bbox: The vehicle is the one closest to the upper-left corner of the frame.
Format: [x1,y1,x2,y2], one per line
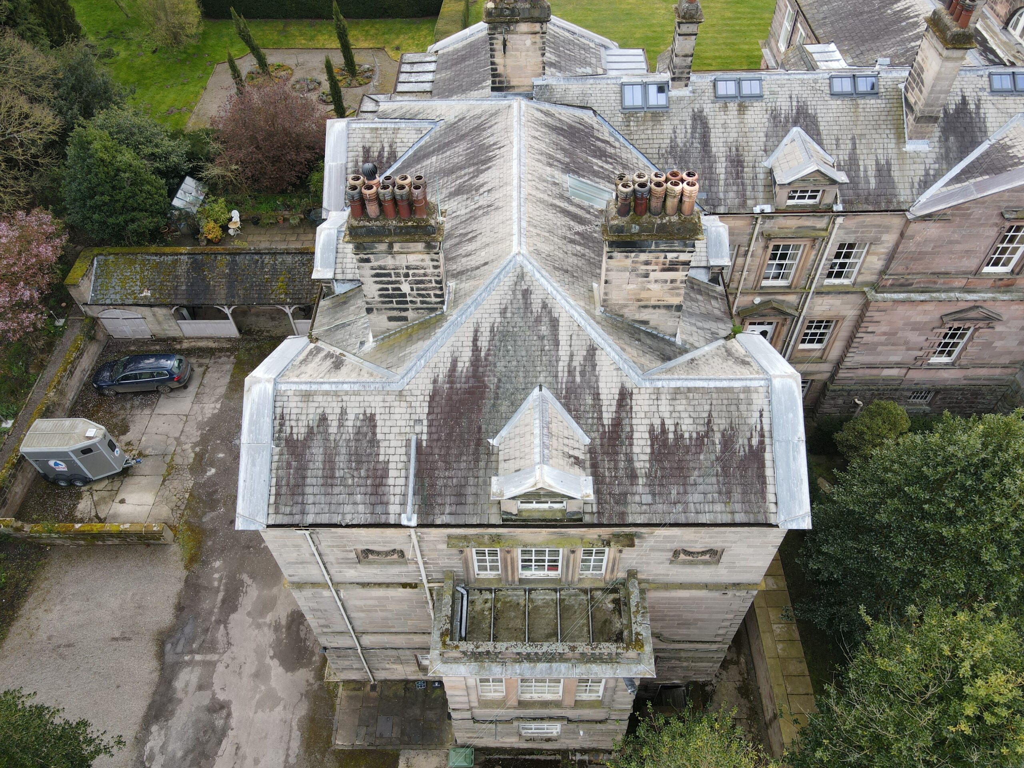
[87,347,193,396]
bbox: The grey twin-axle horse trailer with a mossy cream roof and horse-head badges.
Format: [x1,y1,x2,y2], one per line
[15,420,146,487]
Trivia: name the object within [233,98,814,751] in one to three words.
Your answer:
house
